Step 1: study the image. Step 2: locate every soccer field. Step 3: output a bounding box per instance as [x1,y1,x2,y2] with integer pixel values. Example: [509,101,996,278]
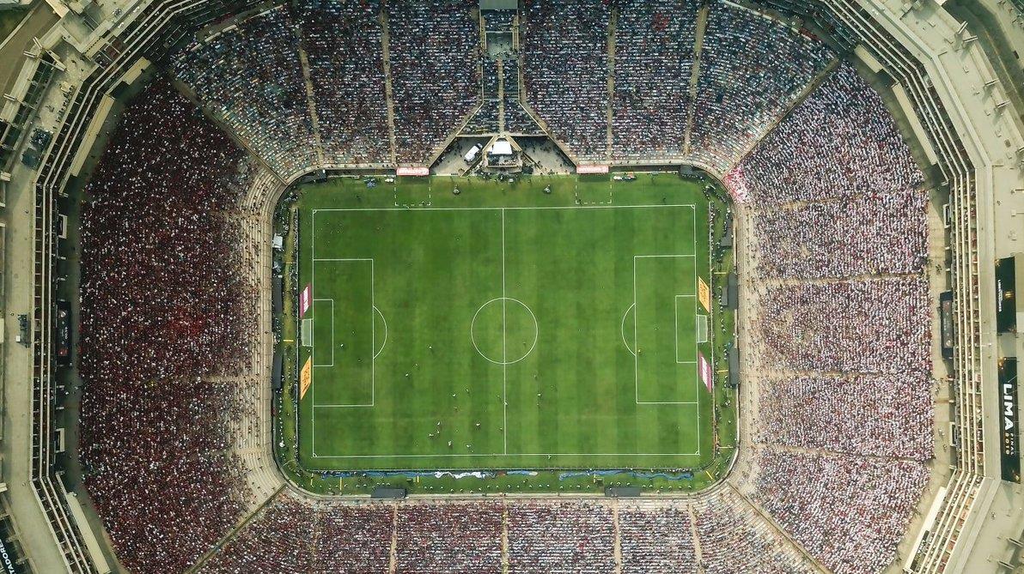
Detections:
[299,172,713,469]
